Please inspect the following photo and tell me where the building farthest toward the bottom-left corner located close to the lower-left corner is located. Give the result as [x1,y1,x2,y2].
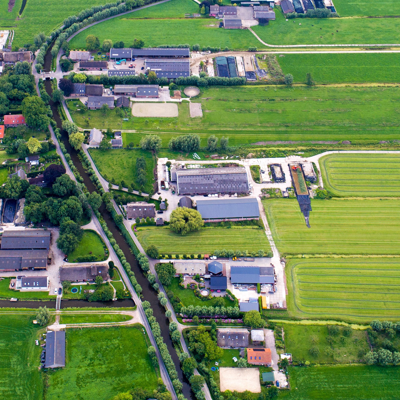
[46,331,67,370]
